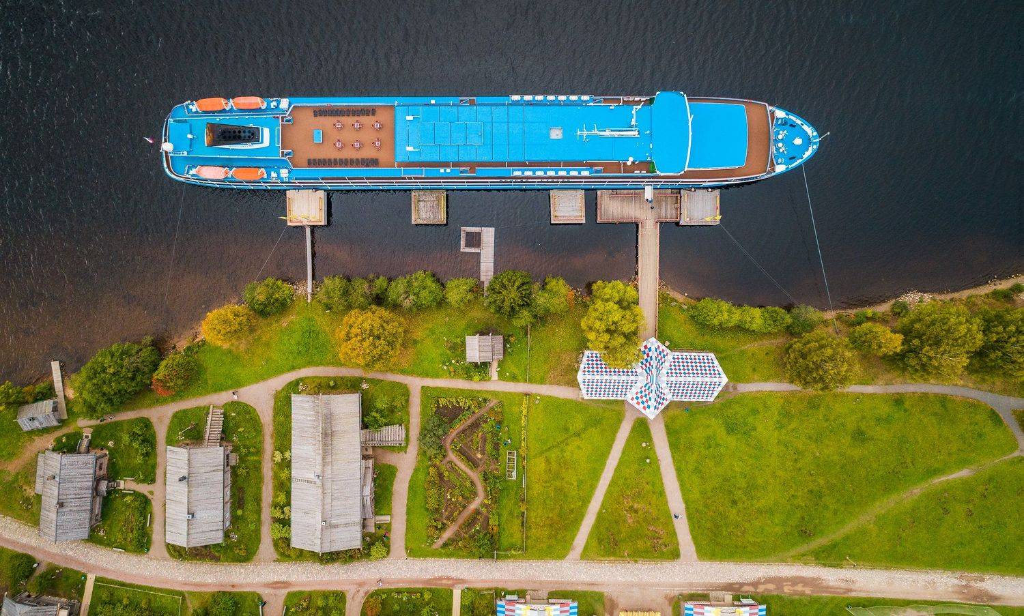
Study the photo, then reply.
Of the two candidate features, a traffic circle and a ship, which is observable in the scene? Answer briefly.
ship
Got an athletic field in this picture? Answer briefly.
No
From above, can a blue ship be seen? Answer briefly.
Yes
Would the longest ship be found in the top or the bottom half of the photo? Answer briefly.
top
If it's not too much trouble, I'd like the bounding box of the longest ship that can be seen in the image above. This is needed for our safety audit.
[148,92,826,190]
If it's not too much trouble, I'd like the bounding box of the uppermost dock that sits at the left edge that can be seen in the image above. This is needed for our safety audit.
[51,361,68,419]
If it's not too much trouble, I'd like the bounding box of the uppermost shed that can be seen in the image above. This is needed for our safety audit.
[466,332,503,368]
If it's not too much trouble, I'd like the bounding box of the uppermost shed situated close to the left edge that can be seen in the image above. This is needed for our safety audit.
[14,399,65,432]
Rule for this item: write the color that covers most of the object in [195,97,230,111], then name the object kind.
orange boat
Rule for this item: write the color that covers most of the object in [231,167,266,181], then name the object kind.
orange boat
